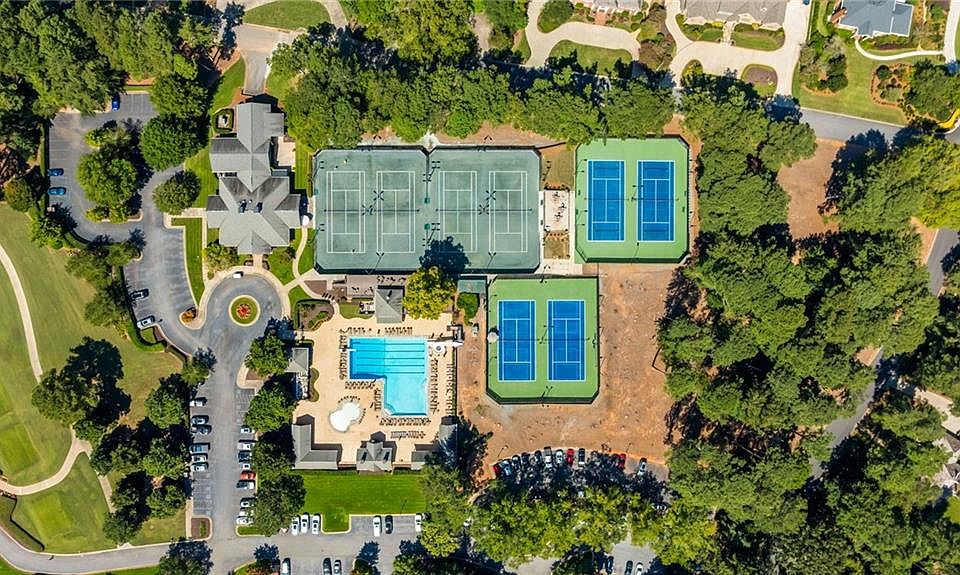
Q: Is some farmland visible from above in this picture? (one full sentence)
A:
No, farmland can't be seen anywhere here.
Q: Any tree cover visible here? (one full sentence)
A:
Yes, there's tree cover in this view.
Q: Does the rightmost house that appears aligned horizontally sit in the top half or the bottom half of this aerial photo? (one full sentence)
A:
The top half of the photo is where the rightmost house that appears aligned horizontally is.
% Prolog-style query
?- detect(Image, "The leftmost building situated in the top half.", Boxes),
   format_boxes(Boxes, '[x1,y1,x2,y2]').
[202,100,304,254]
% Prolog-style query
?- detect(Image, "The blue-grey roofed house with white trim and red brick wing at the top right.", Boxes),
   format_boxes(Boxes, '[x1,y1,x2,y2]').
[826,0,914,40]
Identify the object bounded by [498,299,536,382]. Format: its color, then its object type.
blue tennis court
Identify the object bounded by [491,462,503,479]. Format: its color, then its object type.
red vehicle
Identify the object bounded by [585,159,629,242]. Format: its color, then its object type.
blue tennis court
